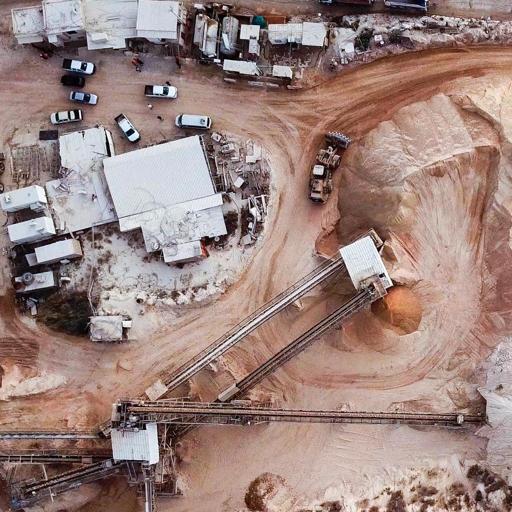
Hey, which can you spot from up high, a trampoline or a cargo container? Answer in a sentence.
Visible in the photo is a cargo container.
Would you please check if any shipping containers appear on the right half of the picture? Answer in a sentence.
No, looking on the right half of the picture, there is no shipping container.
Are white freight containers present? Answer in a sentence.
Yes, a white freight container can be made out from above.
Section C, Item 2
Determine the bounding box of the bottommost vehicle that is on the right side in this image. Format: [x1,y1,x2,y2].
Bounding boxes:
[307,132,352,202]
